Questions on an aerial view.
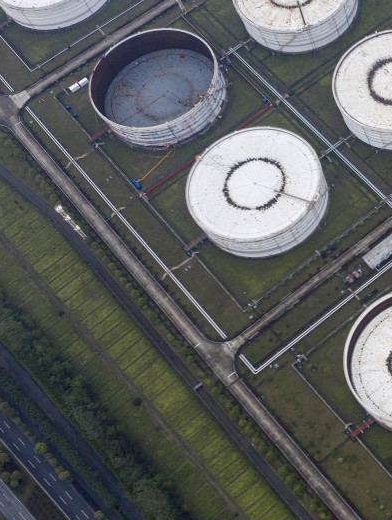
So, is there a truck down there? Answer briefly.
Yes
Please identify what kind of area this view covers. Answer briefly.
industrial area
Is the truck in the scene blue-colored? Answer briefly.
Yes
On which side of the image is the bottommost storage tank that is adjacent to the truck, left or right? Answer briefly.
right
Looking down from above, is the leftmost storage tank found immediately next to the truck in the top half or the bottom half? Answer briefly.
top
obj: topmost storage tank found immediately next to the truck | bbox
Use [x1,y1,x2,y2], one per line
[88,27,229,149]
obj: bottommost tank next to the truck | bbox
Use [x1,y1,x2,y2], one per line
[184,126,331,260]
